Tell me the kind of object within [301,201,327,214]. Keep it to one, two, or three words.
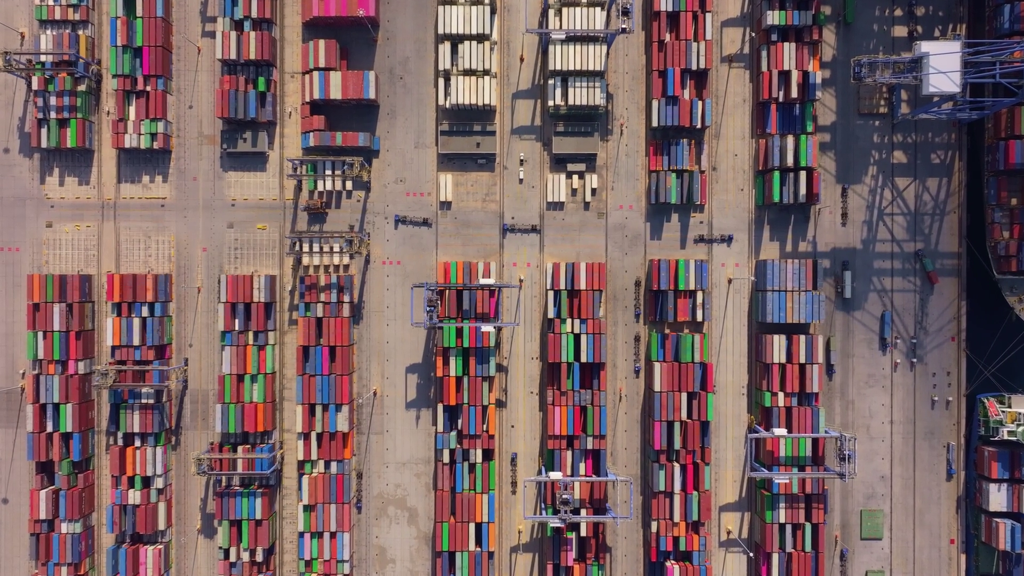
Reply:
vehicle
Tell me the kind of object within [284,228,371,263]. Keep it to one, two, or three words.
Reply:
container crane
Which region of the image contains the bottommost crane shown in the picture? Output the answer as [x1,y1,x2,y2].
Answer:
[524,459,633,527]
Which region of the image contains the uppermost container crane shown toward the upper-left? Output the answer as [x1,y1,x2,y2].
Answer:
[0,48,99,88]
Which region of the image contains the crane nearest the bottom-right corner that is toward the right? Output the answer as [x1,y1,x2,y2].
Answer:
[748,418,858,483]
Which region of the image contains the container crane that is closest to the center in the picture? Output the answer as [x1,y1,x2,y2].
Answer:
[411,279,520,332]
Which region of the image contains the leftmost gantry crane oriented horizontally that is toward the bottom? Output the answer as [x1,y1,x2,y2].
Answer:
[92,356,187,390]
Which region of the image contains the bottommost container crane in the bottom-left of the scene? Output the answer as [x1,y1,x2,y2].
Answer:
[190,438,282,476]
